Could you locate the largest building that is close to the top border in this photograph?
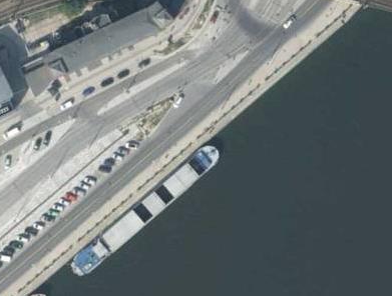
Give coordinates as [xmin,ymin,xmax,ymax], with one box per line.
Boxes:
[45,3,173,82]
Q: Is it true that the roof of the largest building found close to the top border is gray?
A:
Yes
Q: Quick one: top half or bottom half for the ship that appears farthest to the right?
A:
bottom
